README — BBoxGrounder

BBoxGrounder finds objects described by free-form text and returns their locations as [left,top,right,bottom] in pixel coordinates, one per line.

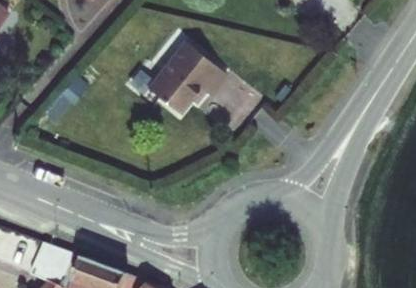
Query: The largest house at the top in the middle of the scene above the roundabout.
[150,35,222,118]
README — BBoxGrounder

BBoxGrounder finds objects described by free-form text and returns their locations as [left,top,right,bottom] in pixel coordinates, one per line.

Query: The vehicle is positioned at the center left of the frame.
[36,166,64,182]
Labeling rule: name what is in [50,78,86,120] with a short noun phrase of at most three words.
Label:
shed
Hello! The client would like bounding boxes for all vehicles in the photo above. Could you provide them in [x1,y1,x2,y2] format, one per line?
[36,166,64,182]
[15,240,27,263]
